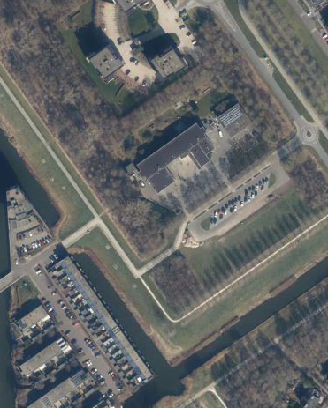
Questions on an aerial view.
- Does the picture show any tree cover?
Yes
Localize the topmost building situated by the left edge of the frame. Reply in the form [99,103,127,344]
[6,185,32,219]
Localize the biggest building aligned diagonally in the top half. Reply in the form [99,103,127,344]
[137,122,205,183]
